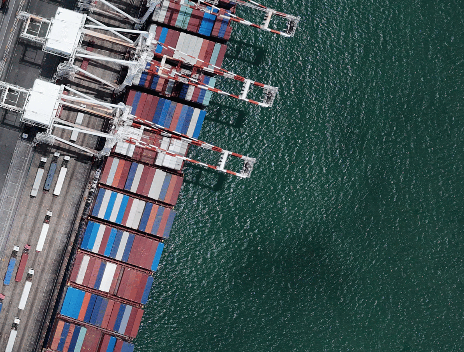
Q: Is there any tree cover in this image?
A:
No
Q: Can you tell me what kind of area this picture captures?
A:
port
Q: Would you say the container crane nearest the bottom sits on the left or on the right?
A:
left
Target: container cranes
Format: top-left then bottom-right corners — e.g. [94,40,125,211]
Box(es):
[15,0,283,111]
[82,0,304,41]
[0,69,261,181]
